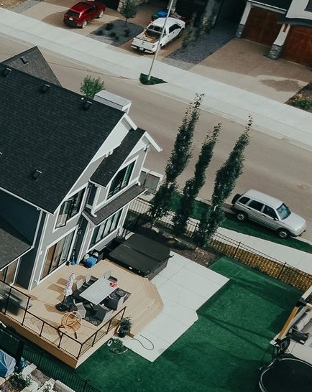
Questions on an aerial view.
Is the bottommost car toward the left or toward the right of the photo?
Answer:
right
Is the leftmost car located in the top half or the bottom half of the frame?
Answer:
top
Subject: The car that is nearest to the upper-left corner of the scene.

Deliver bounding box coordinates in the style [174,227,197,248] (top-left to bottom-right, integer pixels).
[64,0,108,25]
